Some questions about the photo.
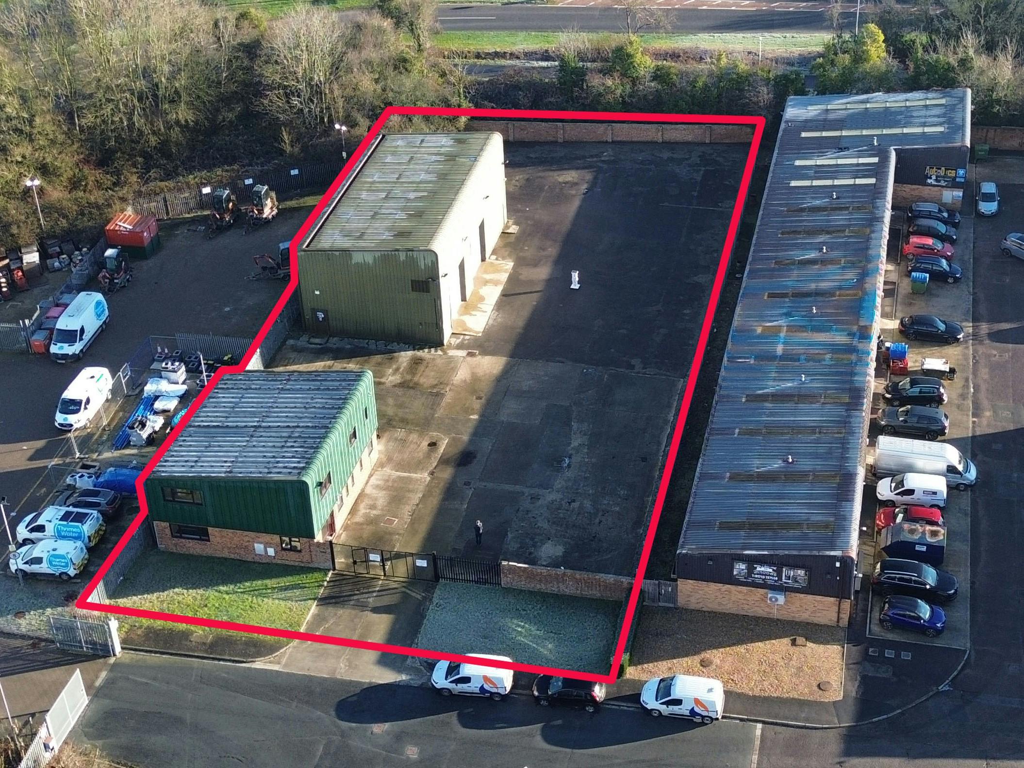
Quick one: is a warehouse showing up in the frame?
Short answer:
Yes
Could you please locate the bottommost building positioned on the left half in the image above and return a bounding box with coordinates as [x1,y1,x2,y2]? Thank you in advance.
[140,371,381,566]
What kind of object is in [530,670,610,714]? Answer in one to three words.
car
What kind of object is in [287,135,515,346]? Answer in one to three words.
warehouse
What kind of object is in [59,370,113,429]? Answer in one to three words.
van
